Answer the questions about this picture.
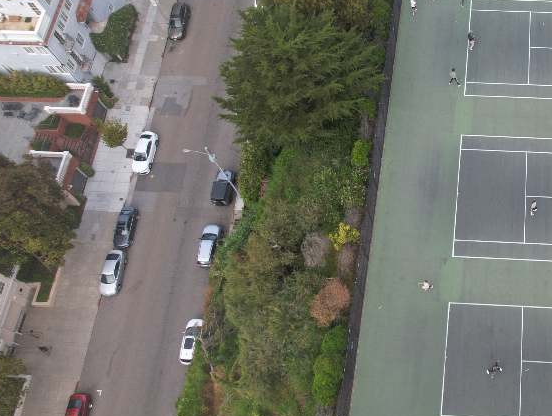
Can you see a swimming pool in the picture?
No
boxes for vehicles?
[97,250,128,296]
[109,205,138,248]
[252,0,267,12]
[175,317,205,365]
[196,225,224,269]
[163,2,190,41]
[130,130,159,173]
[65,394,93,416]
[208,169,236,206]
